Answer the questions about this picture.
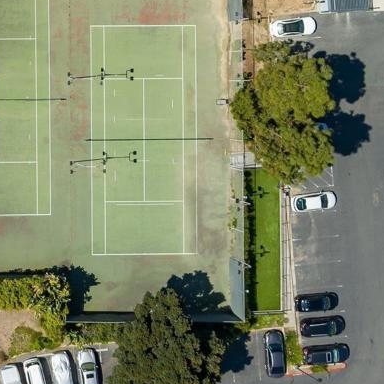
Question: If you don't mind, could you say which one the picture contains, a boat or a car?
car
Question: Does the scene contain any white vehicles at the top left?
No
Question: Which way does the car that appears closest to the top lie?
from left to right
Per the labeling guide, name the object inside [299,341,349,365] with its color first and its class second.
black car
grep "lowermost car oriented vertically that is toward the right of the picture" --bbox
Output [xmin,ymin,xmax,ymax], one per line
[261,327,286,377]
